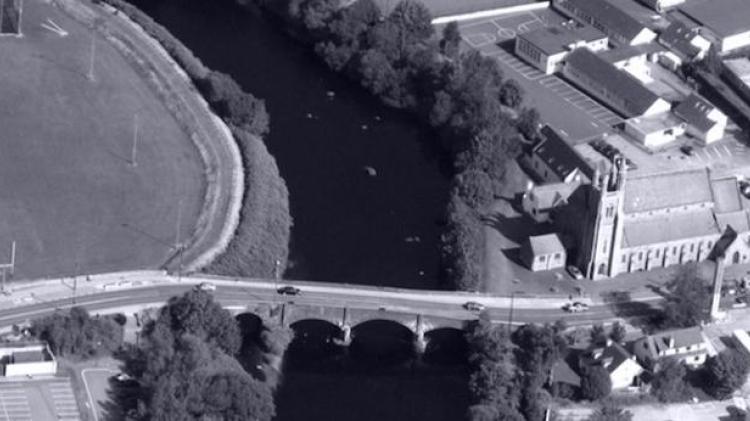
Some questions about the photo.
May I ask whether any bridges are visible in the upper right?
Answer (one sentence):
No, no bridge is visible in the upper right.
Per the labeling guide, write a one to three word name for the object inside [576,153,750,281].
church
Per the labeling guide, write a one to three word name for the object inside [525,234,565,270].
house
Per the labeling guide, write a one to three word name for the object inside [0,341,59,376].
building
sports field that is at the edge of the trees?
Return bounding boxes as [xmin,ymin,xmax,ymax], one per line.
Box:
[0,0,195,283]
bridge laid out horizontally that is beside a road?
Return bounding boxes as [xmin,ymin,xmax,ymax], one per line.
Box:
[223,269,501,354]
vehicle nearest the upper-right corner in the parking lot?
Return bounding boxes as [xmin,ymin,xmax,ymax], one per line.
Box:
[676,141,698,154]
